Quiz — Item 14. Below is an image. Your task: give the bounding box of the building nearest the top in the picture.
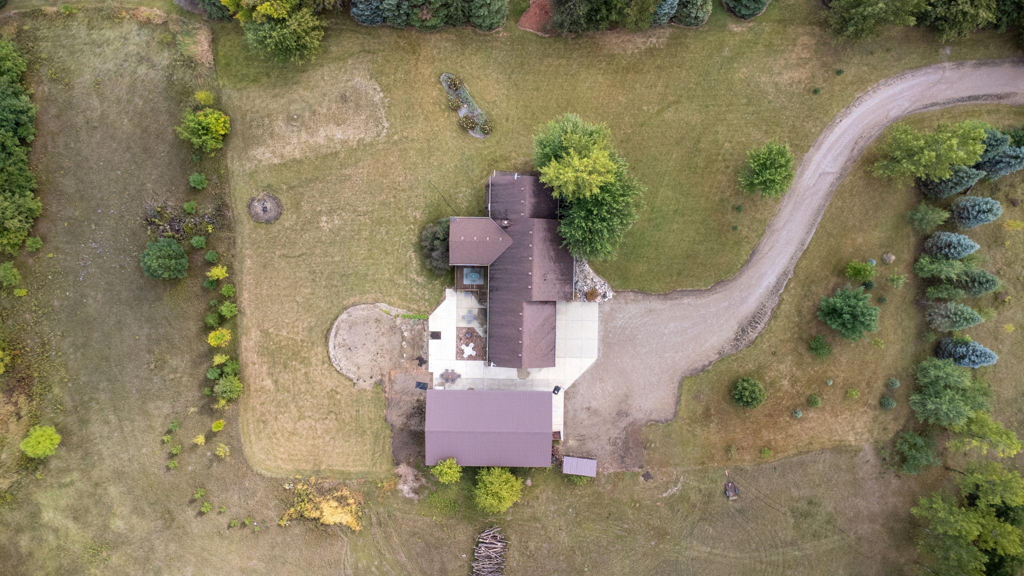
[449,175,575,368]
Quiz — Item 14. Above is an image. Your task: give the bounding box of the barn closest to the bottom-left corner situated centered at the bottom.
[424,388,553,467]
